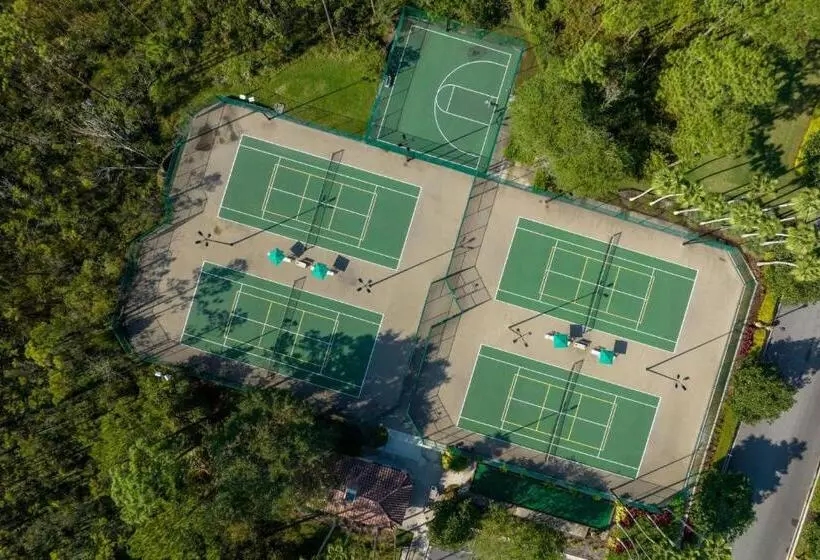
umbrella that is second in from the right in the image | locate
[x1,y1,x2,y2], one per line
[553,334,568,348]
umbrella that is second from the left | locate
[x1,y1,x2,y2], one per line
[312,263,330,280]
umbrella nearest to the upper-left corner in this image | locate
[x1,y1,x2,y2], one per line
[267,248,287,267]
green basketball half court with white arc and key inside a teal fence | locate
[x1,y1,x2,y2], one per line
[368,17,519,179]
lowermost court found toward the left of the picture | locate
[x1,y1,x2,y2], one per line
[181,262,383,397]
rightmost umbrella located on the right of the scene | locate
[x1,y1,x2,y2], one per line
[599,350,614,365]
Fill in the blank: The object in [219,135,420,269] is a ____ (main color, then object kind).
green tennis court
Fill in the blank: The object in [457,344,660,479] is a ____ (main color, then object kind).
green tennis court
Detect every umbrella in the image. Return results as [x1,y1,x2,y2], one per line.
[553,334,568,348]
[312,263,330,280]
[599,350,614,365]
[267,248,287,267]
